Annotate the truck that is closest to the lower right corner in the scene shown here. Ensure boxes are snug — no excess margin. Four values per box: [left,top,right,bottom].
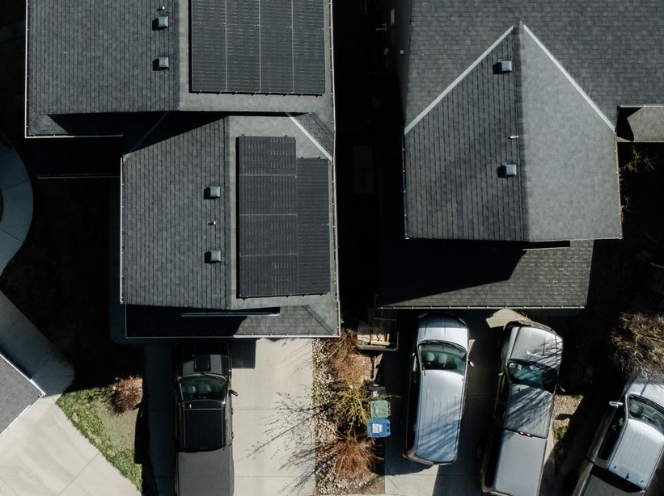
[565,357,664,496]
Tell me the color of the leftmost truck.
black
